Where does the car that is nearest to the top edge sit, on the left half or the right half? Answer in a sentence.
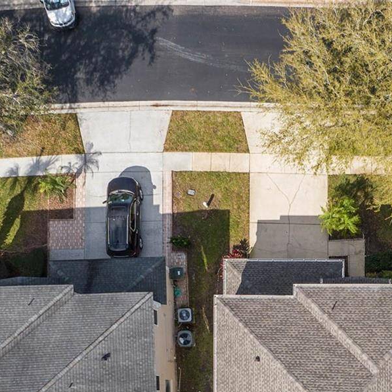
The car that is nearest to the top edge sits on the left side.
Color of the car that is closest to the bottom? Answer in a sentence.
From above, the car that is closest to the bottom appears black.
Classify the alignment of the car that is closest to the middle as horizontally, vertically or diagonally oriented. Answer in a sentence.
The car that is closest to the middle has been laid out vertically relative to the frame.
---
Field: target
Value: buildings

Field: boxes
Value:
[213,258,392,392]
[0,257,177,392]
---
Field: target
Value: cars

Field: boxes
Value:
[34,0,77,32]
[101,171,144,254]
